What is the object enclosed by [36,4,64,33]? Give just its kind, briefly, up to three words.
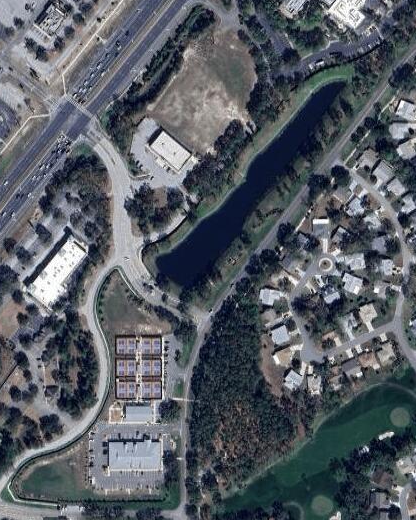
building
